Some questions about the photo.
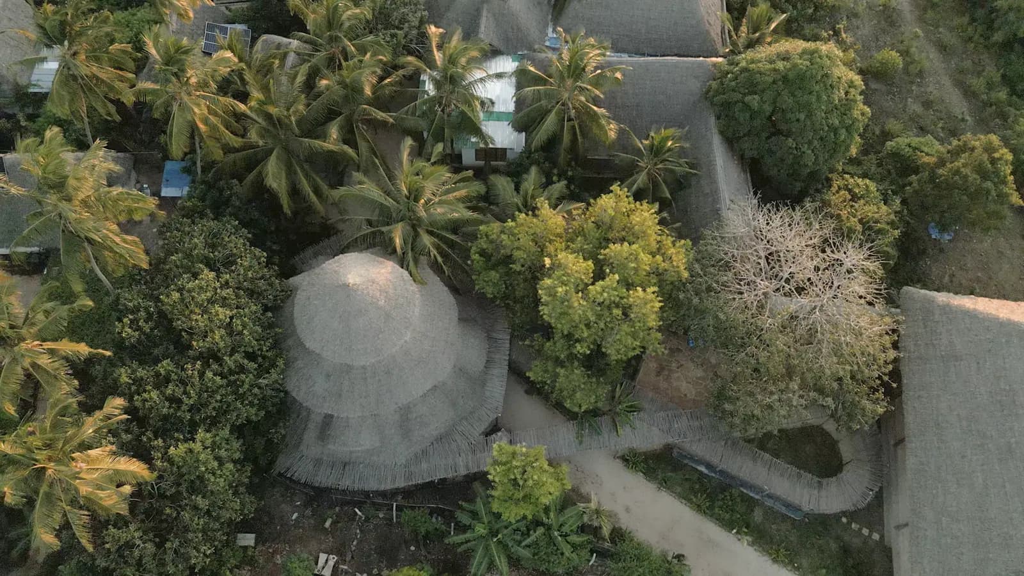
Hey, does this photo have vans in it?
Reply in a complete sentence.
No, the frame has no van in it.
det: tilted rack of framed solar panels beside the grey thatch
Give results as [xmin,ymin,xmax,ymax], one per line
[202,22,255,69]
